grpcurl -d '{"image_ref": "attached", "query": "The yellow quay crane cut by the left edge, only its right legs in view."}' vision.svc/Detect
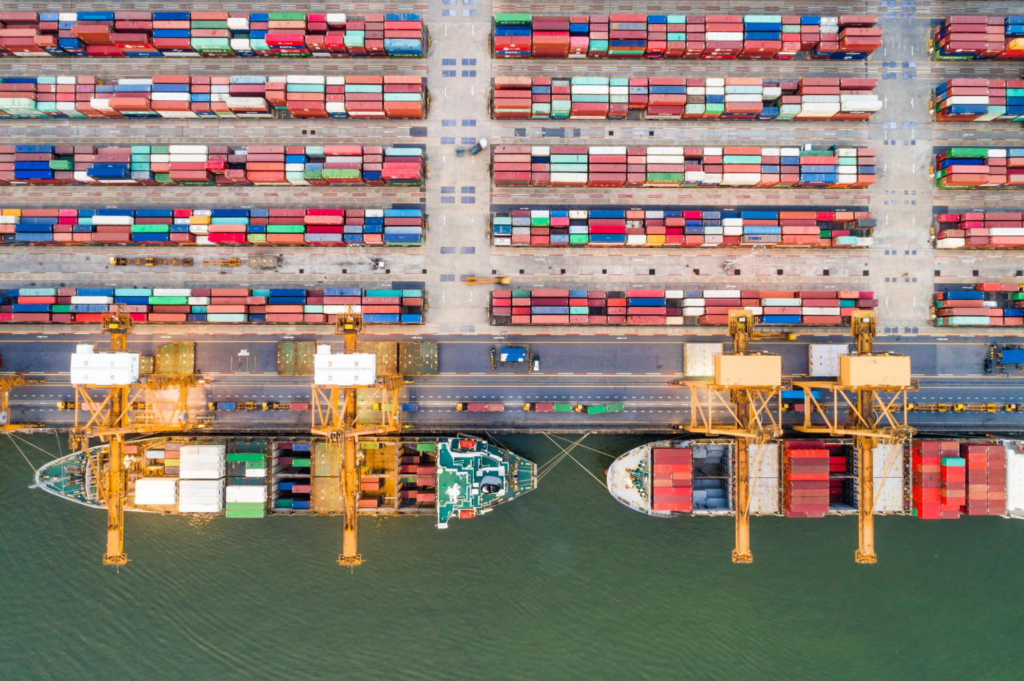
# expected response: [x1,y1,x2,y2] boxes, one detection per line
[0,373,43,430]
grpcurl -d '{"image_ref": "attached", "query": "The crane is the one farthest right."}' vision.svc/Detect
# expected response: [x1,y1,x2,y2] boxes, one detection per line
[775,312,915,565]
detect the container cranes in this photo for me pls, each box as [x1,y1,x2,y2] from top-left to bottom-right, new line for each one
[0,373,43,430]
[311,303,414,575]
[669,312,785,565]
[775,312,915,565]
[68,302,214,574]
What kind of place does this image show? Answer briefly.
port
